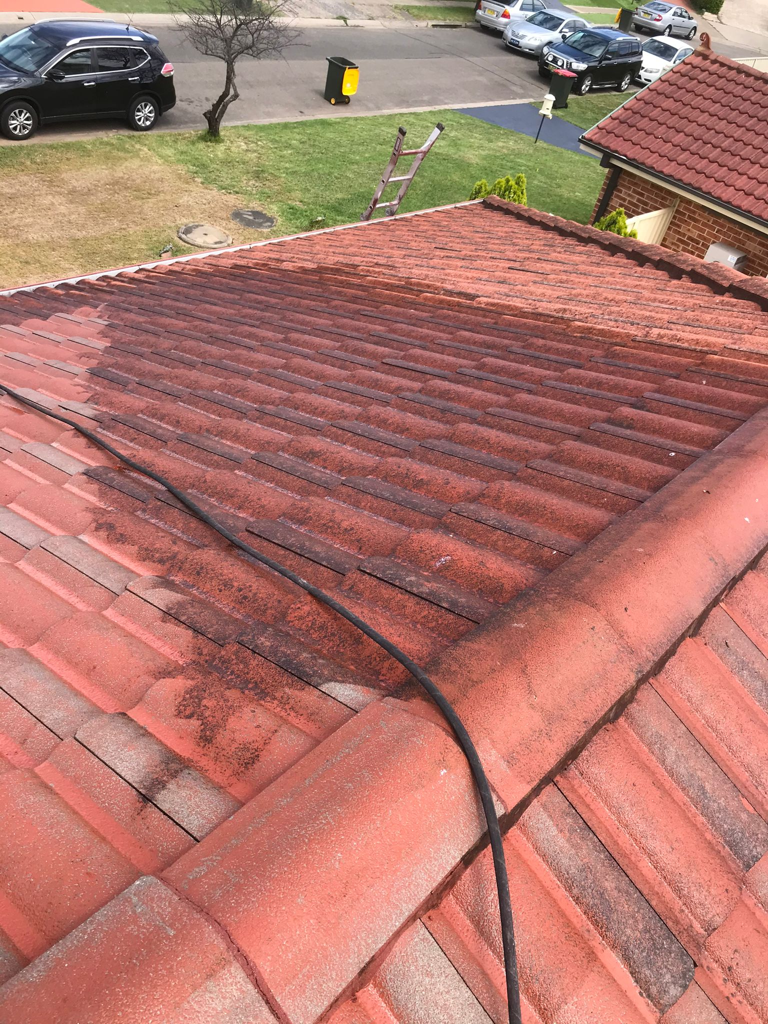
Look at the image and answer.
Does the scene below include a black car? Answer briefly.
Yes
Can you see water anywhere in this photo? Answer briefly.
No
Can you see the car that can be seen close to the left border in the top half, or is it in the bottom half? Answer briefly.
top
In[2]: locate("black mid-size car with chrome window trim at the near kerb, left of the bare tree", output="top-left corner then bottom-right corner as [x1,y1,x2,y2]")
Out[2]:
[0,18,180,137]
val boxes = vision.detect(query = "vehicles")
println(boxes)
[634,42,692,84]
[638,1,697,38]
[479,0,549,29]
[0,18,180,137]
[503,12,587,52]
[529,20,644,93]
